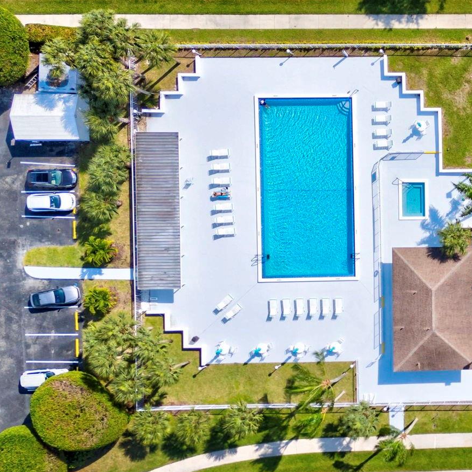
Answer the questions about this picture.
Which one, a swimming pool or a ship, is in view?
swimming pool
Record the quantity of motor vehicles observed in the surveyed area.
4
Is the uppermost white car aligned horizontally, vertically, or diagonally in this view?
horizontally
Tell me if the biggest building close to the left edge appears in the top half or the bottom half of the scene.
top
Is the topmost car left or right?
left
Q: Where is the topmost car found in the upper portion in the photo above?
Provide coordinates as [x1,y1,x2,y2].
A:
[29,168,80,190]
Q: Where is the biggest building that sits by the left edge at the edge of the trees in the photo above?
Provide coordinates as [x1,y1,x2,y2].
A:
[9,94,94,143]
